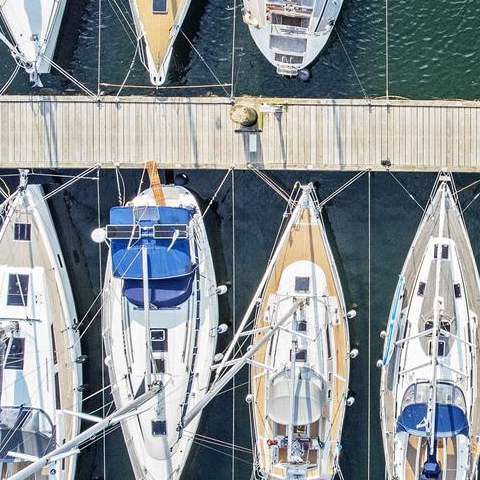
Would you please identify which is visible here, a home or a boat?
boat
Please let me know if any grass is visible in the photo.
No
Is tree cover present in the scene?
No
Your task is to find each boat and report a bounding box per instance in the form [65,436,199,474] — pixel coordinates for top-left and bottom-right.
[0,171,79,480]
[0,184,222,480]
[381,169,480,480]
[0,0,68,88]
[170,174,352,480]
[110,0,192,90]
[242,0,347,76]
